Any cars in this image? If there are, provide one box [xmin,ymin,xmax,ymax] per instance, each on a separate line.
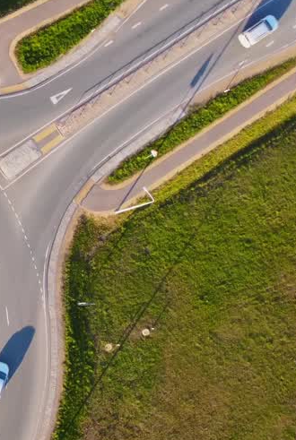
[235,16,278,48]
[0,362,8,396]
